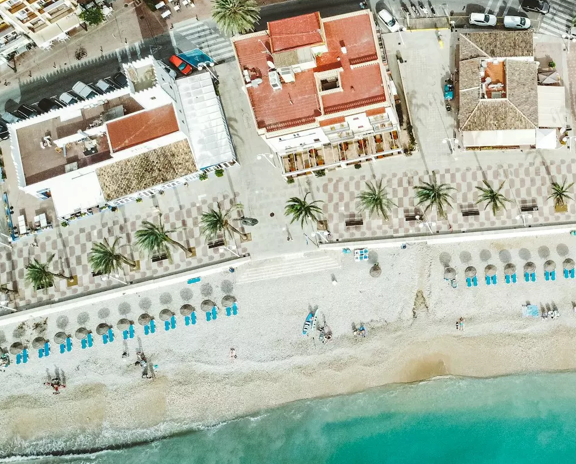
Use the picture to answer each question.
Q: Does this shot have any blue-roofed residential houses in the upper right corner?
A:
No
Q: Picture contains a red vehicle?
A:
Yes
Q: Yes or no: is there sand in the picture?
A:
Yes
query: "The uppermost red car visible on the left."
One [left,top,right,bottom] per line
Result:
[170,54,192,75]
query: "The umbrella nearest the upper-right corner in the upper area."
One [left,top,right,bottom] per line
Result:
[538,69,558,86]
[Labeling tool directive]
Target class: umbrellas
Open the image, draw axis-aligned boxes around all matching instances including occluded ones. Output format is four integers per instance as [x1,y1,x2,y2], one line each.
[484,264,497,277]
[97,322,111,336]
[538,69,558,86]
[141,313,153,326]
[55,331,68,345]
[15,342,27,355]
[563,258,575,270]
[35,337,47,349]
[368,263,383,278]
[524,261,536,273]
[544,260,556,272]
[444,267,457,280]
[161,308,174,321]
[76,327,89,339]
[182,304,194,316]
[0,346,8,358]
[223,294,236,307]
[503,263,516,276]
[537,129,556,148]
[203,300,215,312]
[464,267,477,278]
[118,318,132,330]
